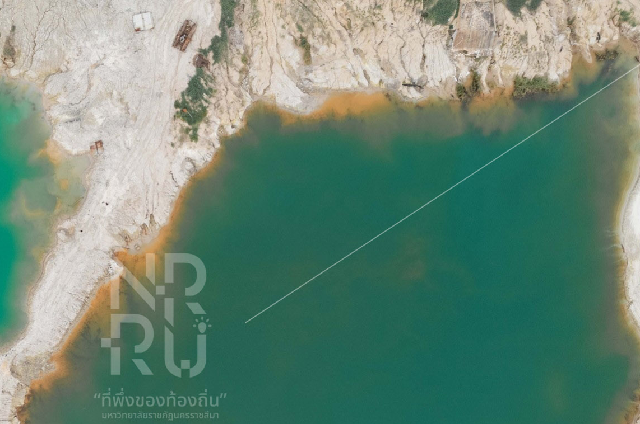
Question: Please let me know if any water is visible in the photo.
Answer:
Yes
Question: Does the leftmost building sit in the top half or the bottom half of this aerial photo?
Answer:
top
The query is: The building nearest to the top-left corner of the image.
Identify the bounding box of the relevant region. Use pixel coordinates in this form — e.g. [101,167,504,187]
[132,10,155,31]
